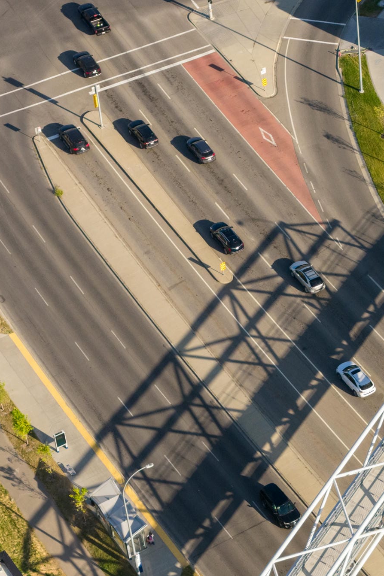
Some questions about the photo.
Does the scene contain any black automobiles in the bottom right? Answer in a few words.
Yes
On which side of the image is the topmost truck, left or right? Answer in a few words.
left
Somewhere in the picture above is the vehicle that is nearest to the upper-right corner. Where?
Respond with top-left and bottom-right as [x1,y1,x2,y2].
[186,136,218,168]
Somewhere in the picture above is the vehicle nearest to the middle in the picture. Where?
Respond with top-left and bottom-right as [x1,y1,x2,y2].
[209,221,244,258]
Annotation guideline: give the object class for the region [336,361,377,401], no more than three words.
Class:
car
